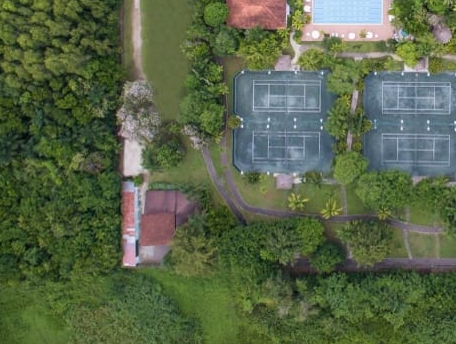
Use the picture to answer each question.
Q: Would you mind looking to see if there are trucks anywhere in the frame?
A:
No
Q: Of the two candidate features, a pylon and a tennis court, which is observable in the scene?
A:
tennis court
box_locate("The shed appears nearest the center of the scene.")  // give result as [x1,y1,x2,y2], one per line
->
[273,173,300,189]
